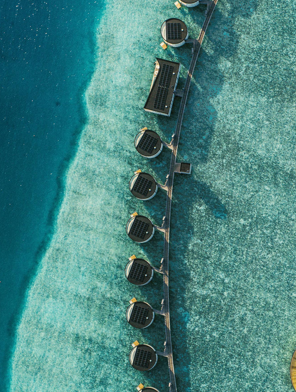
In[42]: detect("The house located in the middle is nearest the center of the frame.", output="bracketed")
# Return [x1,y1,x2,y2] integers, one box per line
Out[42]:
[130,167,158,199]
